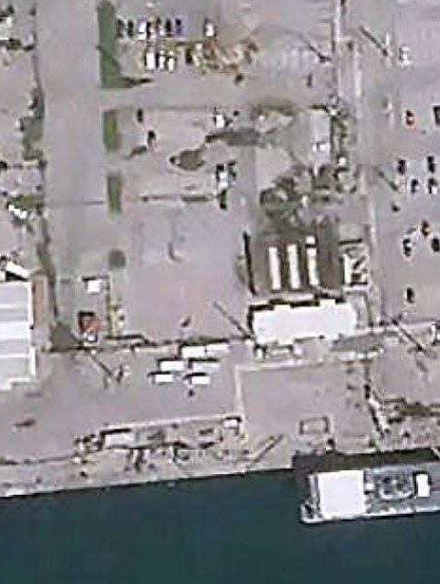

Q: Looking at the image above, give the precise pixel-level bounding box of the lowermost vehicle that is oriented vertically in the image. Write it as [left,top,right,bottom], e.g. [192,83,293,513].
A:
[82,313,95,342]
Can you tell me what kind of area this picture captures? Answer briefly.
port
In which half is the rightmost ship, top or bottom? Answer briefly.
bottom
